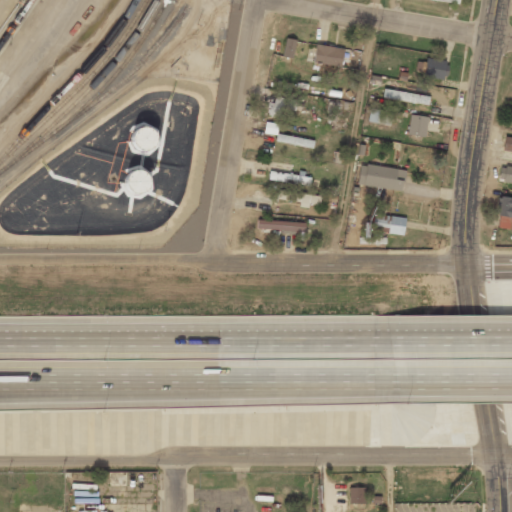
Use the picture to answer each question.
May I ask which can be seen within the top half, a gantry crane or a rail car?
rail car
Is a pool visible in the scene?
No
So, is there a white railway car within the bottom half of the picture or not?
No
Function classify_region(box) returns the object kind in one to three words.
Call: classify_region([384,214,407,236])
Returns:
house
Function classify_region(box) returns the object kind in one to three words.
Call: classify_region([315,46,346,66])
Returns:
house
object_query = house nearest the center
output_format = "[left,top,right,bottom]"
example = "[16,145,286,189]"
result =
[258,220,307,232]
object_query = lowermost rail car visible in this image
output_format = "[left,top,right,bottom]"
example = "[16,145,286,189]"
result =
[16,104,52,141]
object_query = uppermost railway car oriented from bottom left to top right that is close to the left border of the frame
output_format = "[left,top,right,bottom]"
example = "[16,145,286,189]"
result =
[14,0,39,24]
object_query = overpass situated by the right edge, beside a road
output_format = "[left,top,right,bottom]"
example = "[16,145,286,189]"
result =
[374,316,512,406]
